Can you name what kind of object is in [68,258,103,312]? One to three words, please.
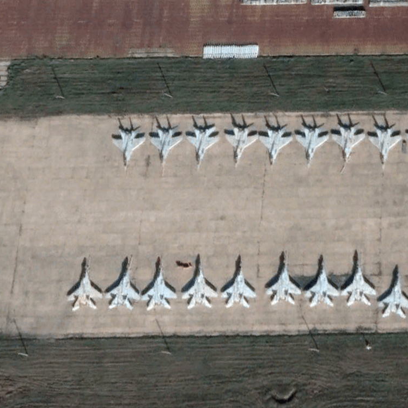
airplane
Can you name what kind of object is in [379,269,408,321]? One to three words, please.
airplane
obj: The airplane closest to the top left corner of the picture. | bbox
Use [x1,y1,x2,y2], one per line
[113,126,145,176]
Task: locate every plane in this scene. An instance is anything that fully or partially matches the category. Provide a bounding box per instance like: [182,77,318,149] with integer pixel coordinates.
[222,256,256,311]
[68,258,103,312]
[183,257,217,311]
[368,123,402,174]
[305,255,340,308]
[333,121,365,172]
[259,123,292,174]
[341,256,376,308]
[186,124,219,174]
[267,255,301,307]
[142,260,177,312]
[379,269,408,321]
[113,126,145,176]
[107,260,140,313]
[150,126,182,177]
[296,122,328,173]
[226,121,258,174]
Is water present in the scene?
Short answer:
No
